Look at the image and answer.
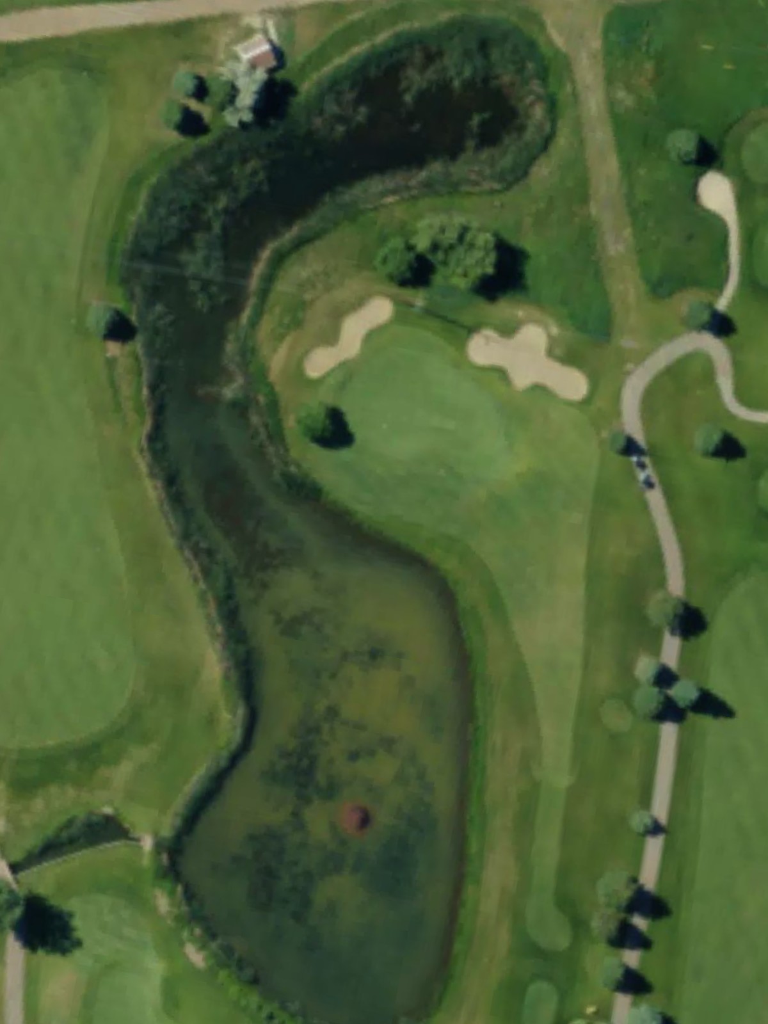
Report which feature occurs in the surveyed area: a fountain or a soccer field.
fountain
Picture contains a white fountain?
No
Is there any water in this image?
Yes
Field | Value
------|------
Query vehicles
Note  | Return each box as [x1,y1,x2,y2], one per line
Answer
[638,473,649,489]
[632,453,643,470]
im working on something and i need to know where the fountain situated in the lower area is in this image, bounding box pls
[346,806,372,831]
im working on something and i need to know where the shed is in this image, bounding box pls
[236,31,276,68]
